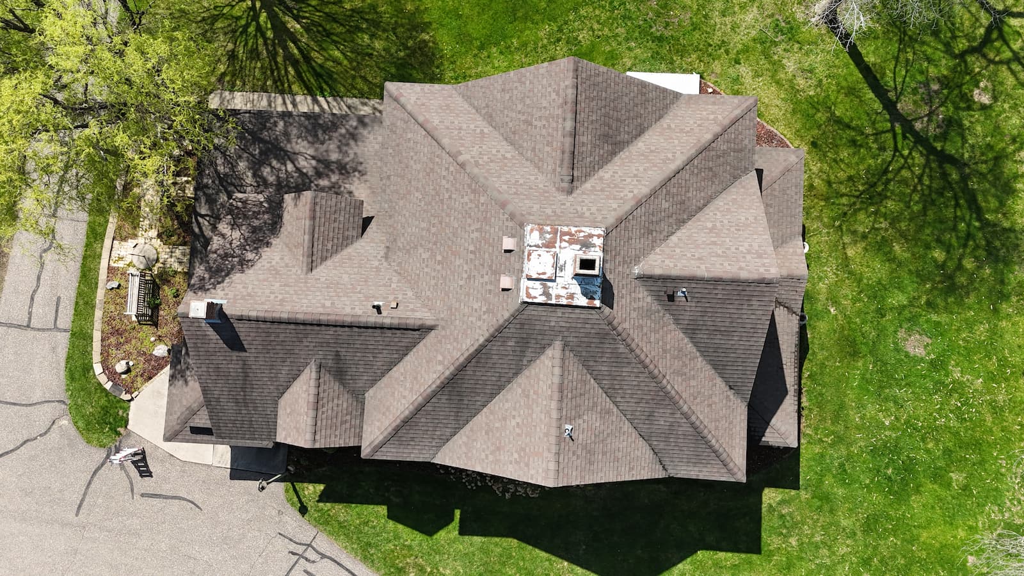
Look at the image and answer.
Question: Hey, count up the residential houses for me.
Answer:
1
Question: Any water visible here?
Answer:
No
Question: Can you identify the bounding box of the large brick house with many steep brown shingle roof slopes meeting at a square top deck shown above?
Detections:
[163,54,814,488]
